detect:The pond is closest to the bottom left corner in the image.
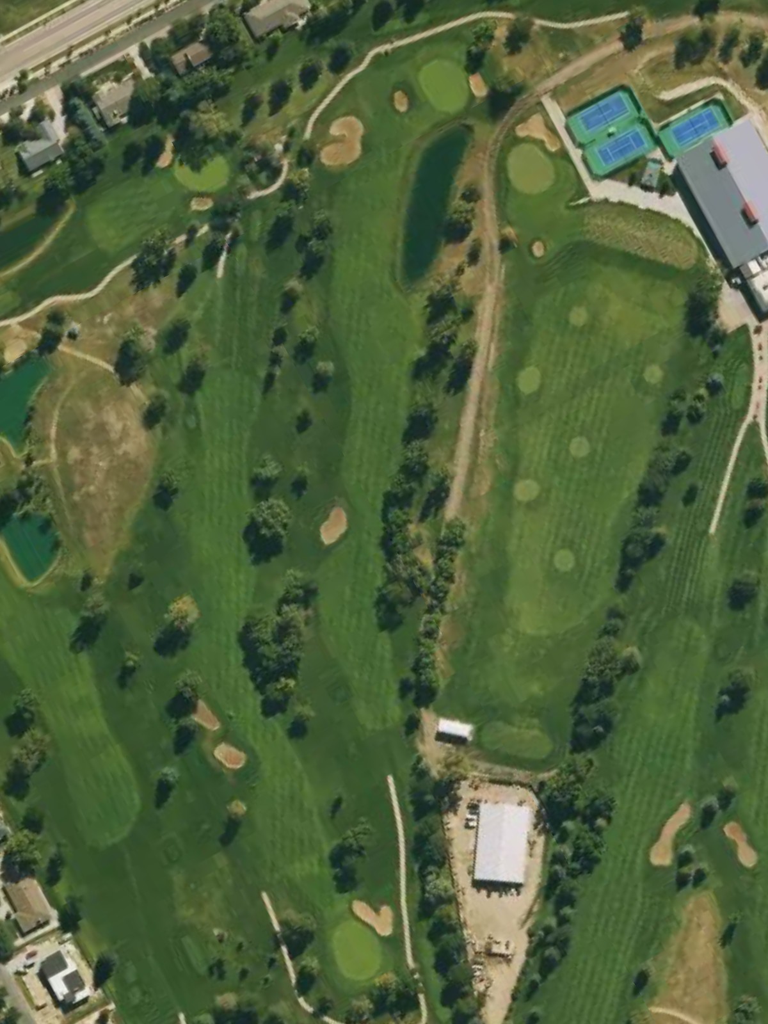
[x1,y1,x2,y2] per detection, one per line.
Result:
[0,512,61,581]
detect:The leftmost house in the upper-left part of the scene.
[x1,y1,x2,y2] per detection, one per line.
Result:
[18,117,63,171]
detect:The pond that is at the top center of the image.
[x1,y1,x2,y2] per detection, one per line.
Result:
[401,123,474,287]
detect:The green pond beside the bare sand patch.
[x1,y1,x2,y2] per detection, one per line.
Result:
[0,354,50,453]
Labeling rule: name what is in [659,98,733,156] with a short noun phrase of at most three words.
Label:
tennis court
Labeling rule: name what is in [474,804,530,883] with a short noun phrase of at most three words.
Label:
building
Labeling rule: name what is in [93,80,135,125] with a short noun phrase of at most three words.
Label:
house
